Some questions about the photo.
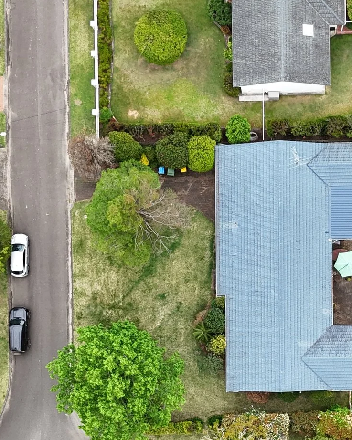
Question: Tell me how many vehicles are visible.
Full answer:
My tally gives 2 vehicles in this view.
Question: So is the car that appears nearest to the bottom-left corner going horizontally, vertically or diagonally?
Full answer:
What the image shows is the car that appears nearest to the bottom-left corner lying vertically.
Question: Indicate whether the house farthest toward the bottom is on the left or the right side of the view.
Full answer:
It is on the right.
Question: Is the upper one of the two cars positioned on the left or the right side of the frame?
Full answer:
The upper one of the two cars appears in the left half of the scene.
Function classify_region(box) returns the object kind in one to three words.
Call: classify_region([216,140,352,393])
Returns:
house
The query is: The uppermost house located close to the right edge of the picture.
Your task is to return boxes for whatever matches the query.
[230,0,345,88]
